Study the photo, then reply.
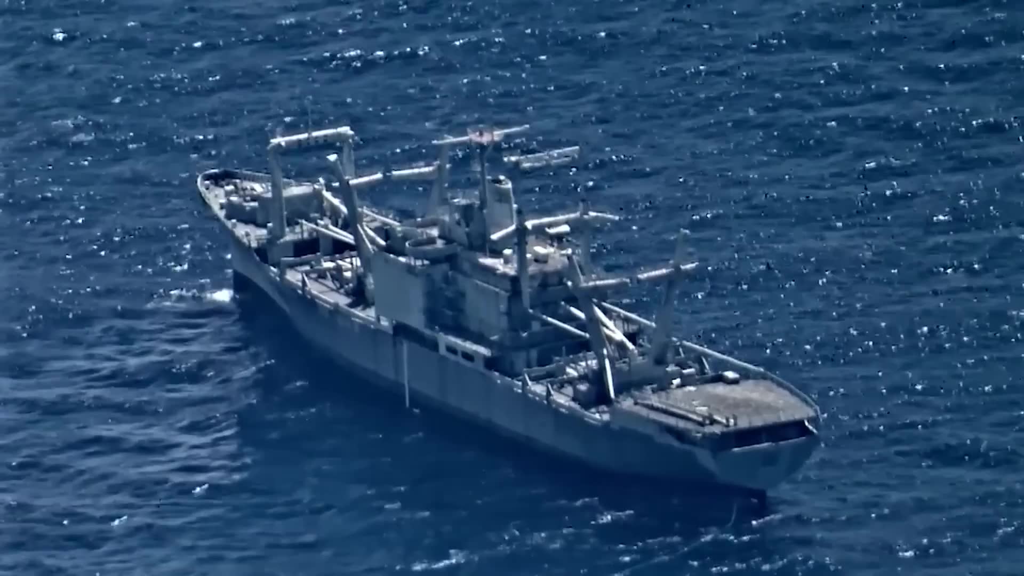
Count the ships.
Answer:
1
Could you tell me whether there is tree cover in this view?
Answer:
No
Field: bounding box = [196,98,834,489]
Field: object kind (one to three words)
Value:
ship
